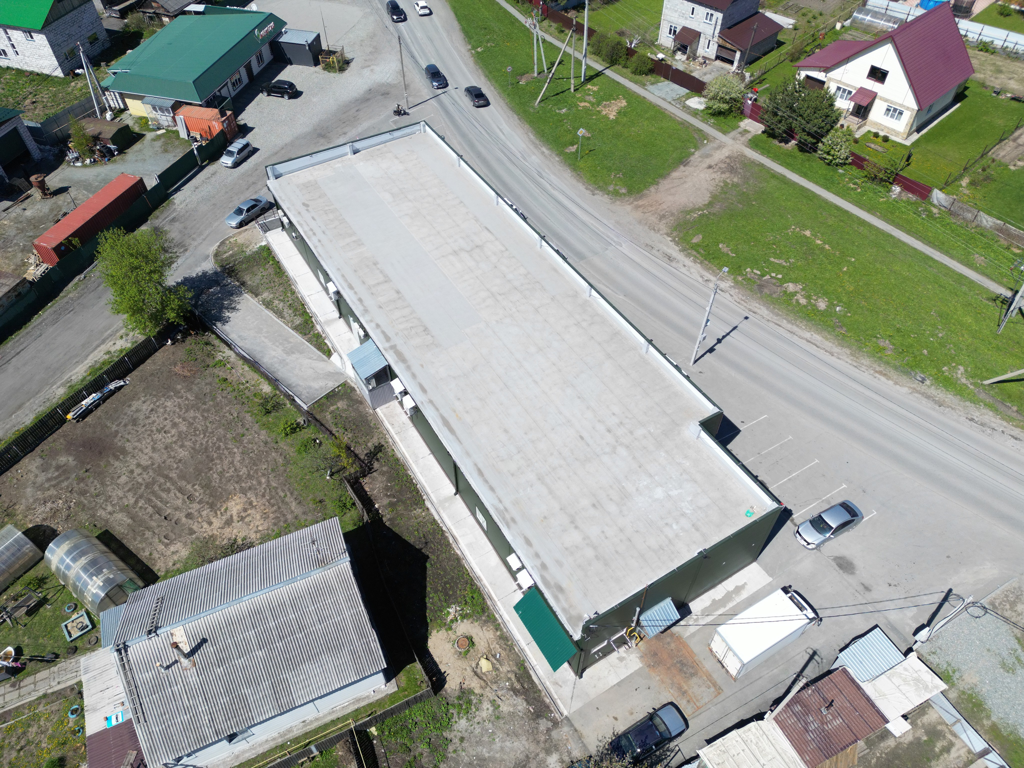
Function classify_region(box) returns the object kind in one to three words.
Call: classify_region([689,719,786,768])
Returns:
shed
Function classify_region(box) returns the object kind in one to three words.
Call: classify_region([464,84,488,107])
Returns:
car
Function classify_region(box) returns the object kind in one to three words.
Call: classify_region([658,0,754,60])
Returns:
house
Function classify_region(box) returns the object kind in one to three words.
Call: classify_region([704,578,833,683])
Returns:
truck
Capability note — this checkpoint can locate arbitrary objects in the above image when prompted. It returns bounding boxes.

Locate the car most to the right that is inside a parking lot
[795,501,865,552]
